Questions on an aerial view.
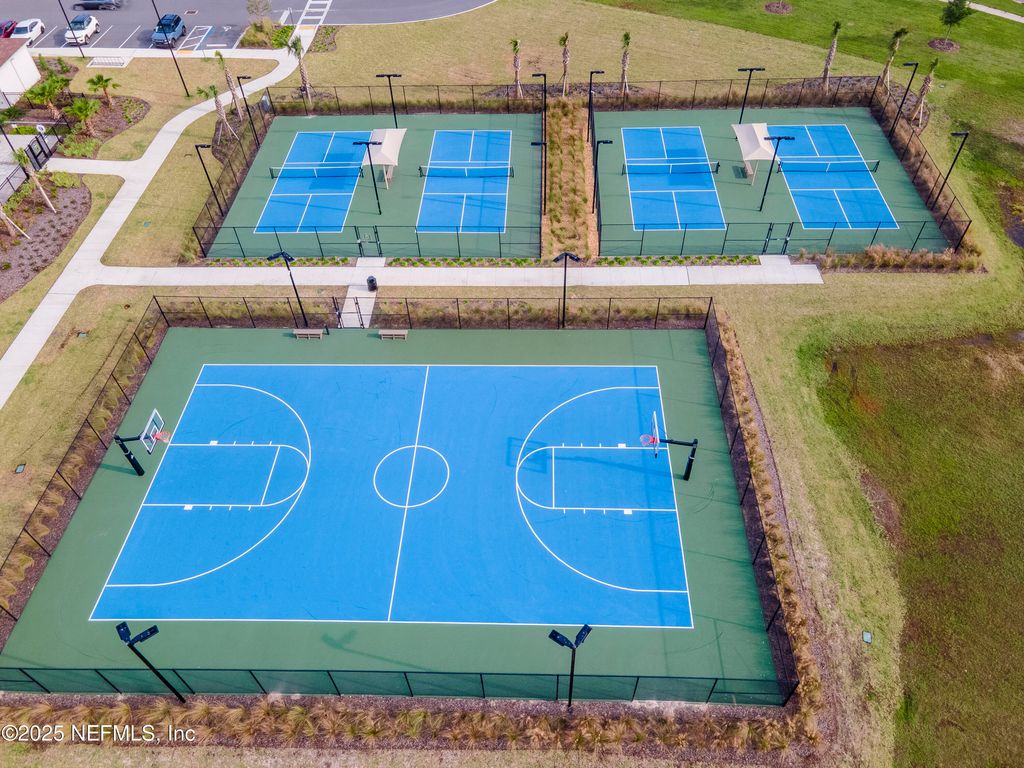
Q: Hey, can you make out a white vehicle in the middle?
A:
No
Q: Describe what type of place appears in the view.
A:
sports ground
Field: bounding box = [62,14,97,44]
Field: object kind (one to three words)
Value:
car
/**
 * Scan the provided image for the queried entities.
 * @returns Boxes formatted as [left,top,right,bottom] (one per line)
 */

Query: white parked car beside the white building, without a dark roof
[7,18,43,44]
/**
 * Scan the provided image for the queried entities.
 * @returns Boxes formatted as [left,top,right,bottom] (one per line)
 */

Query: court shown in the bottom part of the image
[0,327,784,706]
